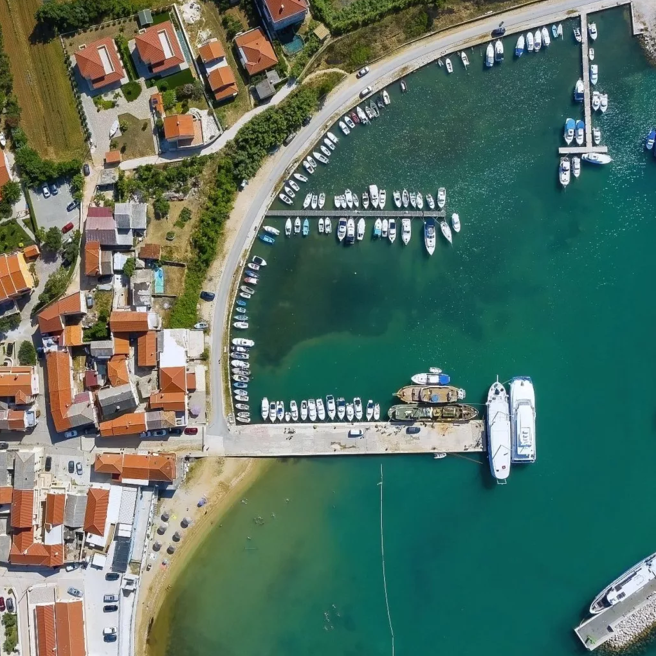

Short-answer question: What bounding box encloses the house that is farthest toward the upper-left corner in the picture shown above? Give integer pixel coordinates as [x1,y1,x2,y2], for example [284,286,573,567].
[75,36,124,90]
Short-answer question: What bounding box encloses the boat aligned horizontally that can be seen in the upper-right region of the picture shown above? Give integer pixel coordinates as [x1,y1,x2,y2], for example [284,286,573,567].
[581,151,613,163]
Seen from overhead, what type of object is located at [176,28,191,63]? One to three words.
swimming pool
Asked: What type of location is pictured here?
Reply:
residential area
